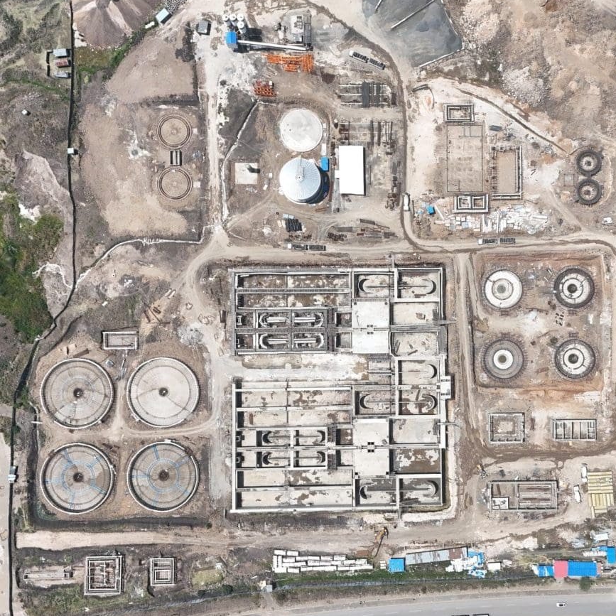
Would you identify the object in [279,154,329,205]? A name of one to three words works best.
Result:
storage tank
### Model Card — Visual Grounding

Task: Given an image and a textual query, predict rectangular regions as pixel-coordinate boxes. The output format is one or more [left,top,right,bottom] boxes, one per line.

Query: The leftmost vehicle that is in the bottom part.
[374,526,387,551]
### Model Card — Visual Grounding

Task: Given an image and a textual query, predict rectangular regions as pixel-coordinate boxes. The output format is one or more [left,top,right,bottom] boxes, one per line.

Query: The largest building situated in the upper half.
[340,145,365,195]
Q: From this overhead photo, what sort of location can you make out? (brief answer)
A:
industrial area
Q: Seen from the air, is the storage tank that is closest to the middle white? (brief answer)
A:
Yes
